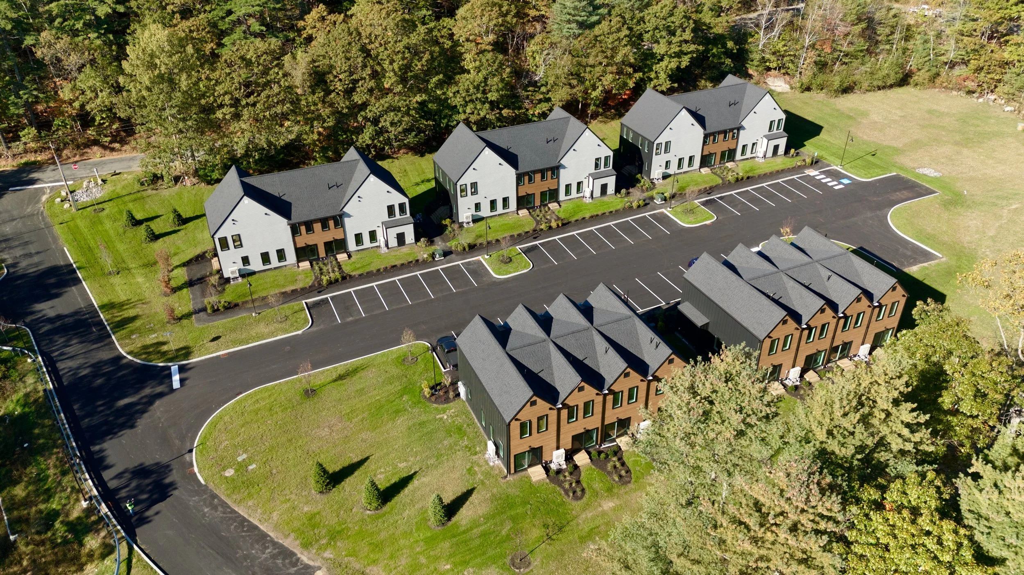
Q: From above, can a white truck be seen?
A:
No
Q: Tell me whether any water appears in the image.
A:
No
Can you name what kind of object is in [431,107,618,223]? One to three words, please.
house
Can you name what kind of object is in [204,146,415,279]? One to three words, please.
house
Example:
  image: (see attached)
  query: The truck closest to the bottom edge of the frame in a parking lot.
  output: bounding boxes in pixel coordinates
[433,325,459,364]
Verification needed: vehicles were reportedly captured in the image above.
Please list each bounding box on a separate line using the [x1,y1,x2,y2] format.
[433,325,459,364]
[687,257,699,268]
